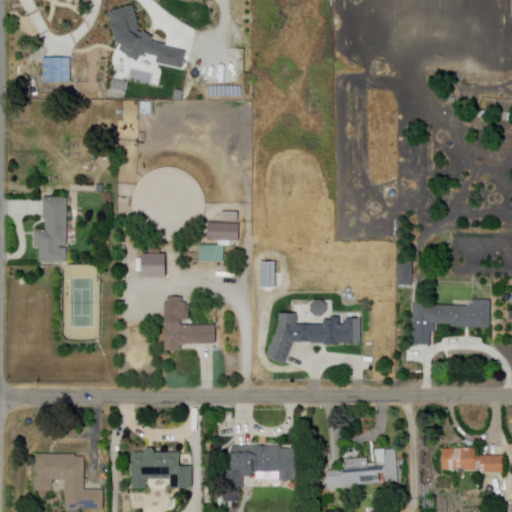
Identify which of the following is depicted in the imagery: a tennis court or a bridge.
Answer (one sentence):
It is a tennis court that can be seen here.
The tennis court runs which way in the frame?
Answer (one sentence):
In this picture, the tennis court lies up and down.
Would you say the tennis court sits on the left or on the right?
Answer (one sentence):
The tennis court sits on the left side.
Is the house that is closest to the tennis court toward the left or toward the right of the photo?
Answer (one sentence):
The house that is closest to the tennis court appears in the left half of the scene.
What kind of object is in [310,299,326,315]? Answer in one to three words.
gazebo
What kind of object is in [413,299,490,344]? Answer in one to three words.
house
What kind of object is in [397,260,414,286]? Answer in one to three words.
building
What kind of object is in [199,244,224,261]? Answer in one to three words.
barn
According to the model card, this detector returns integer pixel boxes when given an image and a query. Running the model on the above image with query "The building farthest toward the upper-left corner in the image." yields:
[42,56,70,82]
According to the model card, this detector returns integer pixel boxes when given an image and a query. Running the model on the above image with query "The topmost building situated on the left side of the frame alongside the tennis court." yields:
[33,196,66,262]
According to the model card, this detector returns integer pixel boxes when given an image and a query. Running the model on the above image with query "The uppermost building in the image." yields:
[109,6,186,66]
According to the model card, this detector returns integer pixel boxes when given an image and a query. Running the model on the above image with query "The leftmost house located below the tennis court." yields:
[34,454,103,510]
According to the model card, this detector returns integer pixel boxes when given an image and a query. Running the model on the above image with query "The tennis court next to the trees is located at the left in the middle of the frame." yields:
[63,264,101,340]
